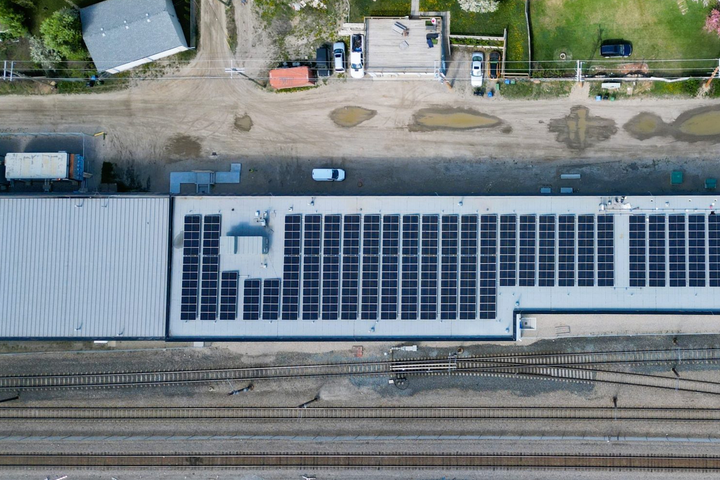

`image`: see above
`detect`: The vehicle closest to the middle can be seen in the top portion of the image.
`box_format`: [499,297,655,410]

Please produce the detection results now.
[310,168,345,182]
